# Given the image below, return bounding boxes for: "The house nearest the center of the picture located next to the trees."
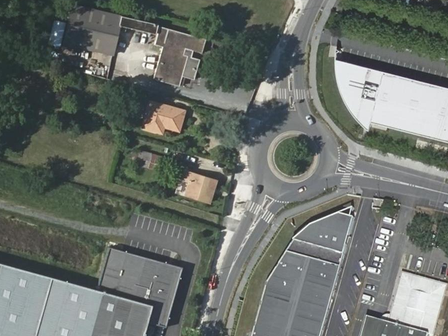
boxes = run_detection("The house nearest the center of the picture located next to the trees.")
[182,172,218,205]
